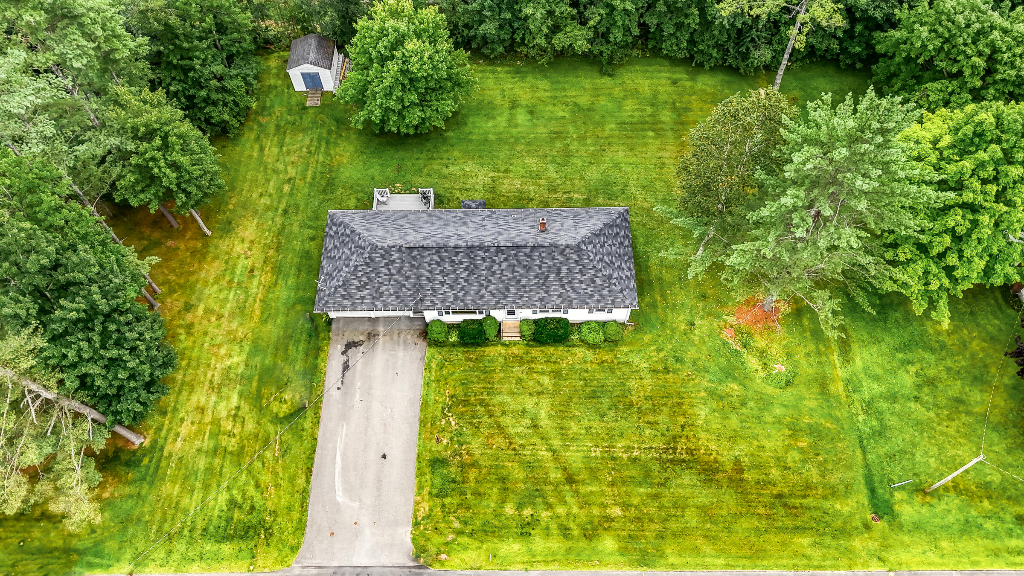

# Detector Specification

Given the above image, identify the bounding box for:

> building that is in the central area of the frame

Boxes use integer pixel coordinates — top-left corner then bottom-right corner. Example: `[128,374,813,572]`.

[313,200,640,323]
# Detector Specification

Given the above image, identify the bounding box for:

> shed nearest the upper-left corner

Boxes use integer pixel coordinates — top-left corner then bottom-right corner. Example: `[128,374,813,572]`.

[287,31,339,90]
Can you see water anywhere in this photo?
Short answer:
No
